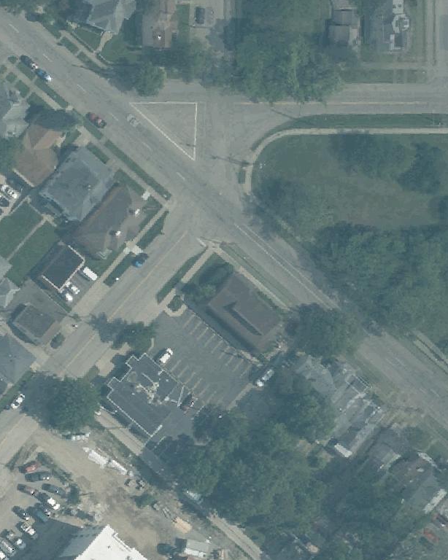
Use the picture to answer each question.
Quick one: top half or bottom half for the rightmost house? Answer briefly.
bottom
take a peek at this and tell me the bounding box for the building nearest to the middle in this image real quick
[207,271,286,351]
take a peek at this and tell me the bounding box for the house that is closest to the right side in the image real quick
[393,452,446,514]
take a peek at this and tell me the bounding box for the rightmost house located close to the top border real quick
[363,0,412,51]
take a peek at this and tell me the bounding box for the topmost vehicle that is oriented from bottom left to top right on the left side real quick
[131,252,149,269]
